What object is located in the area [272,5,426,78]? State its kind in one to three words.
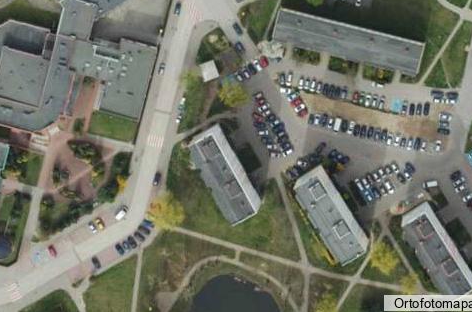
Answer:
building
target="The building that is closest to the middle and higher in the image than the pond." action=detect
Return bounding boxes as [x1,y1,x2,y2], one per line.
[192,118,264,225]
